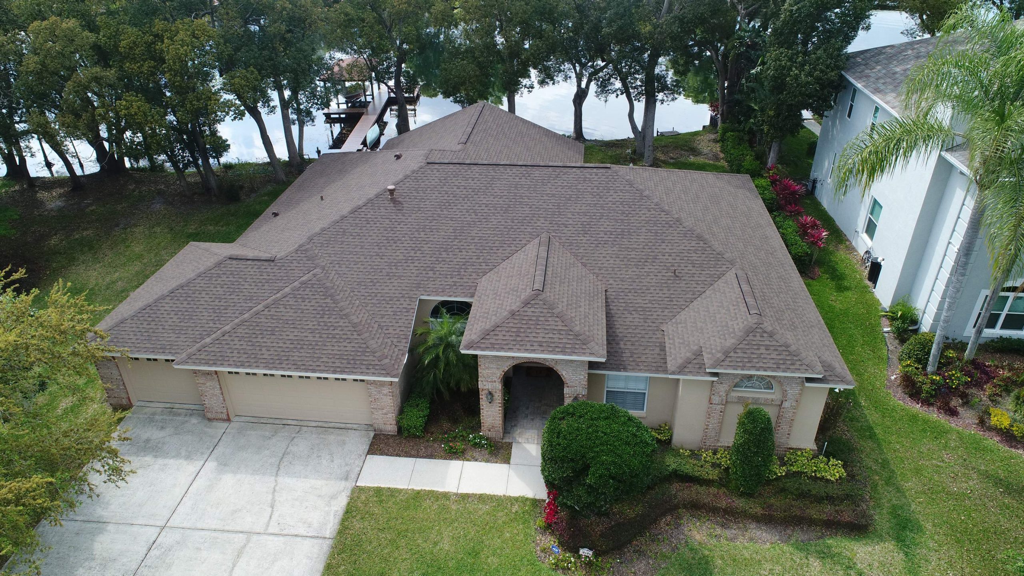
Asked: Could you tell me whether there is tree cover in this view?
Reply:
Yes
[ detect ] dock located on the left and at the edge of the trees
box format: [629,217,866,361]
[323,77,421,151]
